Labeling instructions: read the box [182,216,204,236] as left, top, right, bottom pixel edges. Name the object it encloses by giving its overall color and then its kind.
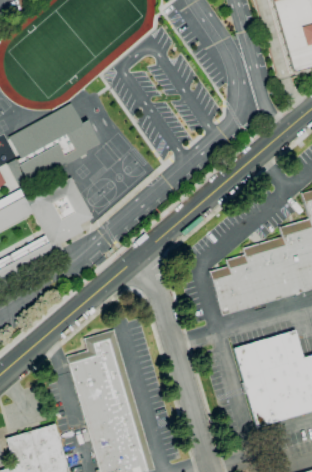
green bus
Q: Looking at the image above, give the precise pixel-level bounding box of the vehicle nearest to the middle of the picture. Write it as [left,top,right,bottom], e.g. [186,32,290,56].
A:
[132,233,149,248]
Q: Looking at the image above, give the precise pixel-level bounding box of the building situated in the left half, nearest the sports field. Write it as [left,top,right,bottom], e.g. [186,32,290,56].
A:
[8,102,84,162]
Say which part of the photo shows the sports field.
top left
